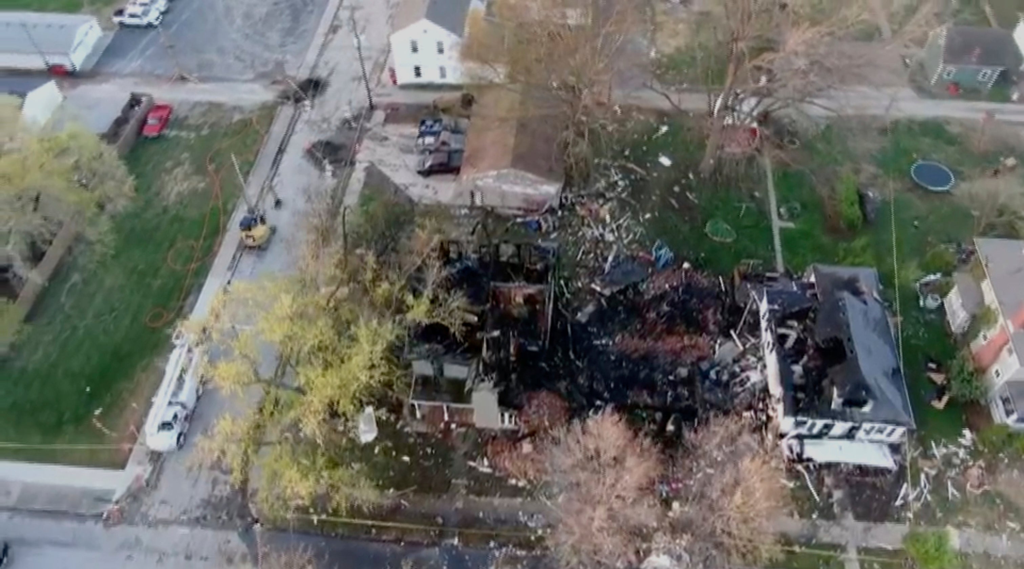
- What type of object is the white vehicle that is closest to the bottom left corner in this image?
truck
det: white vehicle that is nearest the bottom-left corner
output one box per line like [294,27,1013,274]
[140,315,208,447]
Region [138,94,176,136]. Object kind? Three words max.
truck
